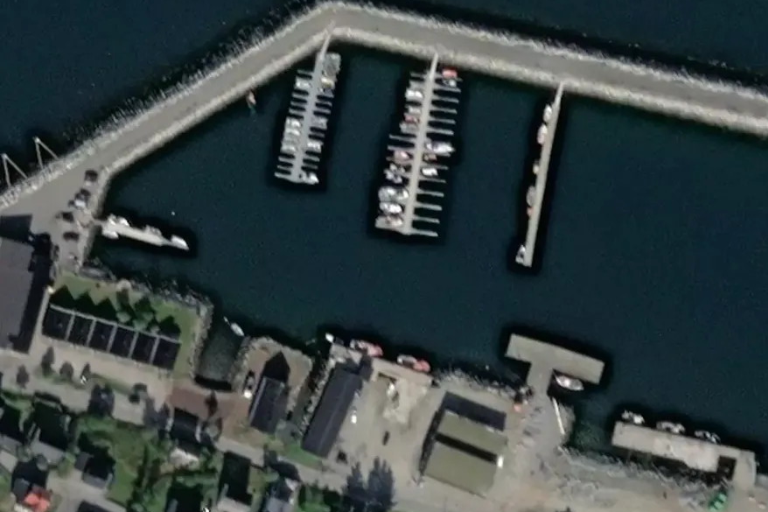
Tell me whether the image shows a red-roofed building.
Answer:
Yes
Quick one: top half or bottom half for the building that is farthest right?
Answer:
bottom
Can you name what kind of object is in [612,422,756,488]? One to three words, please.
pier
